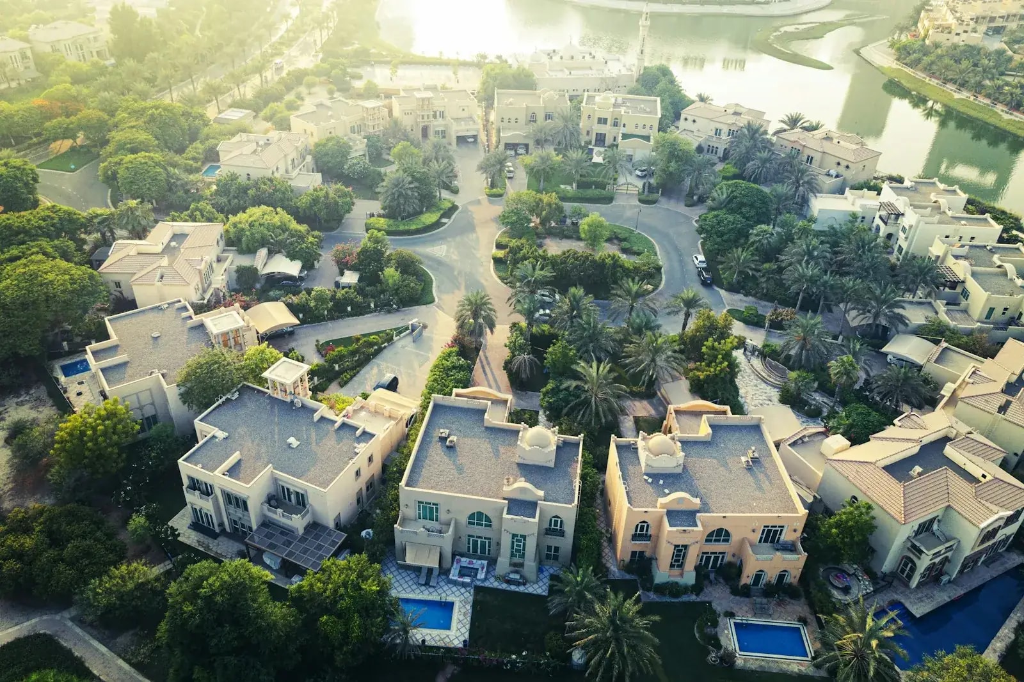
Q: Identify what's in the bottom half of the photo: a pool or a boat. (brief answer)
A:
pool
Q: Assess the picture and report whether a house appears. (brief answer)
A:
Yes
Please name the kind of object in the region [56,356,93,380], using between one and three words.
swimming pool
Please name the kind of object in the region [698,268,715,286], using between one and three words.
car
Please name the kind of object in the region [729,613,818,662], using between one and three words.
swimming pool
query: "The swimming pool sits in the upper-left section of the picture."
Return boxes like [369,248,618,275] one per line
[197,163,222,177]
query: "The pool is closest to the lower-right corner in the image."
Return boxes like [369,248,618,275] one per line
[870,556,1024,673]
